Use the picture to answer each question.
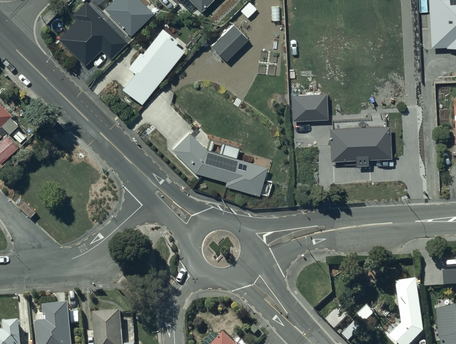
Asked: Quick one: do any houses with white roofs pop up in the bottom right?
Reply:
Yes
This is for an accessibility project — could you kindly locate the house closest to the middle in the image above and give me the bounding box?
[174,134,267,198]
